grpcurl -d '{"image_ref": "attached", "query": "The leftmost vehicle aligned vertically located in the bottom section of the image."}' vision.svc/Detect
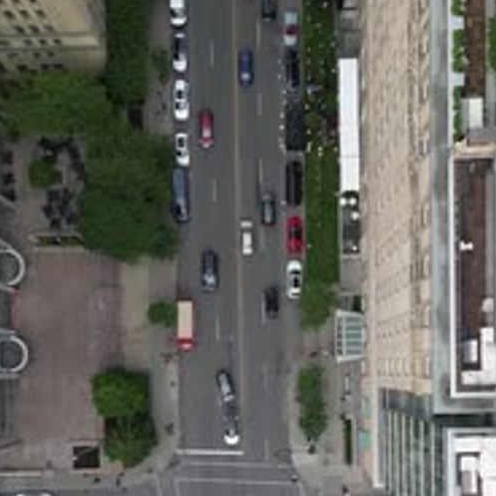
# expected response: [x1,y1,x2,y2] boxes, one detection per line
[176,298,197,352]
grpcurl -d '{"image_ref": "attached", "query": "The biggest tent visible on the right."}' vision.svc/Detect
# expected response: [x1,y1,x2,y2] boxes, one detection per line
[336,58,357,199]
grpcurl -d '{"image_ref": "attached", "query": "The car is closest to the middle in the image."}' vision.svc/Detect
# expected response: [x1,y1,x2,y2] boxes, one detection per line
[240,221,255,256]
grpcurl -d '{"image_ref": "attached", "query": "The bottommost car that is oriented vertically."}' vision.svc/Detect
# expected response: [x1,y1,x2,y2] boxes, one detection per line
[224,404,240,444]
